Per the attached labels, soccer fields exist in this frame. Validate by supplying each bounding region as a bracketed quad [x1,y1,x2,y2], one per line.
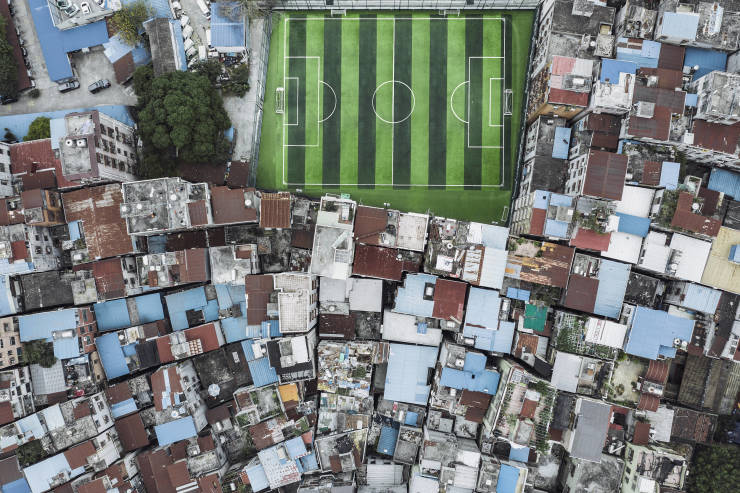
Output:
[252,9,539,226]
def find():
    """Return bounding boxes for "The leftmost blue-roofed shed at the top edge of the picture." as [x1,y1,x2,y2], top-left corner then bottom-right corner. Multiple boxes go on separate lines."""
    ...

[28,0,108,83]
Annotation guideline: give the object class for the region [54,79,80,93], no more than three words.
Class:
vehicle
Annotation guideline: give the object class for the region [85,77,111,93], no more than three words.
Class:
car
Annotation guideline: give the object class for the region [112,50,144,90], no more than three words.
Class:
shed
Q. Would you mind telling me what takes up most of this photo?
buildings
